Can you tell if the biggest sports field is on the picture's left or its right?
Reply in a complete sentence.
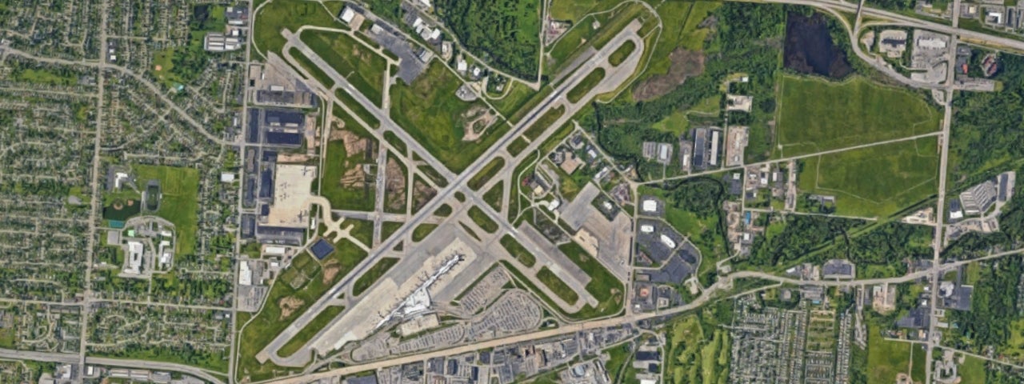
The biggest sports field is on the left side of the image.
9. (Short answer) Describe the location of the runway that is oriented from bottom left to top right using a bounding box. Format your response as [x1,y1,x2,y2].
[260,22,640,360]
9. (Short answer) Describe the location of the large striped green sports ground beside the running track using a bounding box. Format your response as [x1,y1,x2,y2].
[107,165,198,256]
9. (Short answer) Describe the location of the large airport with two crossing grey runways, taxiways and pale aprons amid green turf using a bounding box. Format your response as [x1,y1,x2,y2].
[237,0,662,382]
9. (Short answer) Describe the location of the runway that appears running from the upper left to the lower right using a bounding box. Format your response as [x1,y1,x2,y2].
[287,27,599,308]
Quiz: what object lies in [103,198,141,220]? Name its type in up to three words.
baseball field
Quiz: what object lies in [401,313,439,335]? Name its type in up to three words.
building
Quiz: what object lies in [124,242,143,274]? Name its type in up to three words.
building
